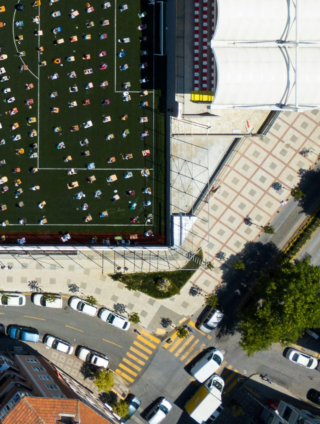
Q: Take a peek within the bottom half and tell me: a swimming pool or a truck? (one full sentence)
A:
The feature located within the bottom half is a truck.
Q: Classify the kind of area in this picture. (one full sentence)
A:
The area seen from above is a sports ground.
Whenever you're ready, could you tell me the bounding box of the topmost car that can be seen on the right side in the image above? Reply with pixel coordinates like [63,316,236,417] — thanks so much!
[197,306,225,338]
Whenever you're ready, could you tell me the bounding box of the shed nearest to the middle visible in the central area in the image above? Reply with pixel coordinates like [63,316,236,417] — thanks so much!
[165,203,200,248]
